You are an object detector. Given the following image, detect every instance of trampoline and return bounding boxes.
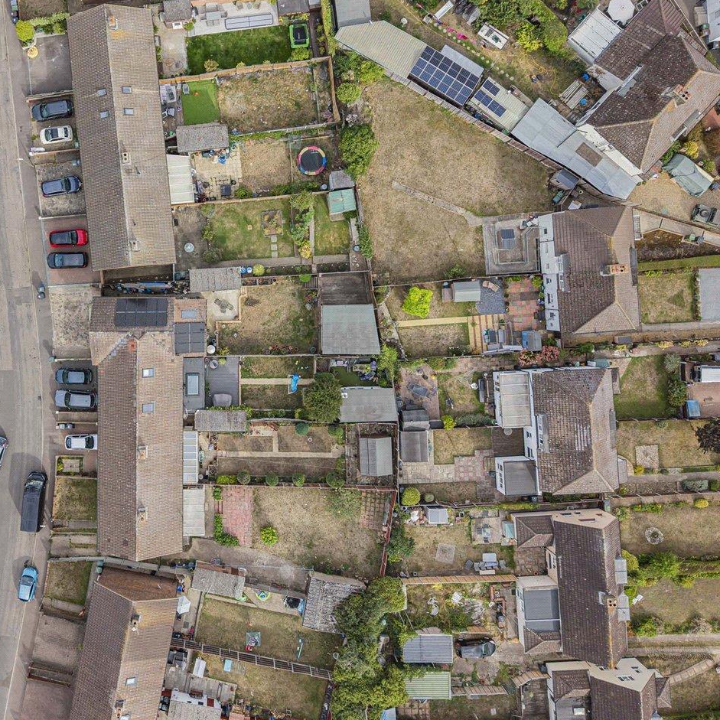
[297,145,328,175]
[291,20,310,47]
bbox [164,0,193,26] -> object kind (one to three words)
shed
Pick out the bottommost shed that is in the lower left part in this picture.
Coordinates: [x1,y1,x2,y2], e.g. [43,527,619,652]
[167,683,221,720]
